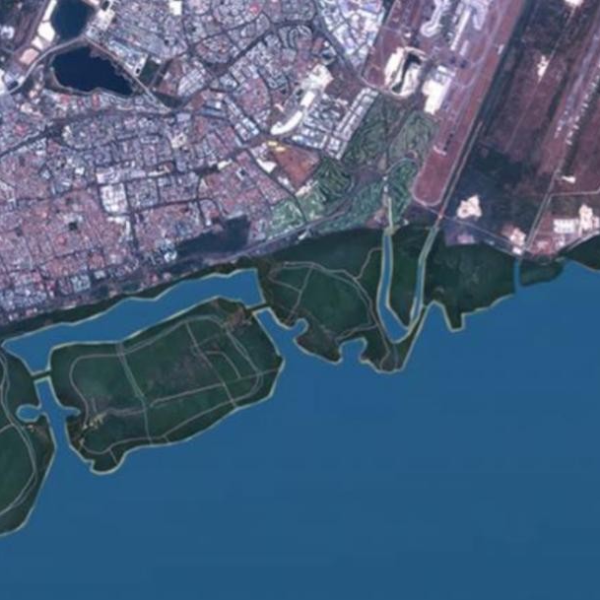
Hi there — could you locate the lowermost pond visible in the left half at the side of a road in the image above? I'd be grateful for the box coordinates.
[51,46,132,95]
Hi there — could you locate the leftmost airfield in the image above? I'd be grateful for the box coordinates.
[361,0,525,209]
